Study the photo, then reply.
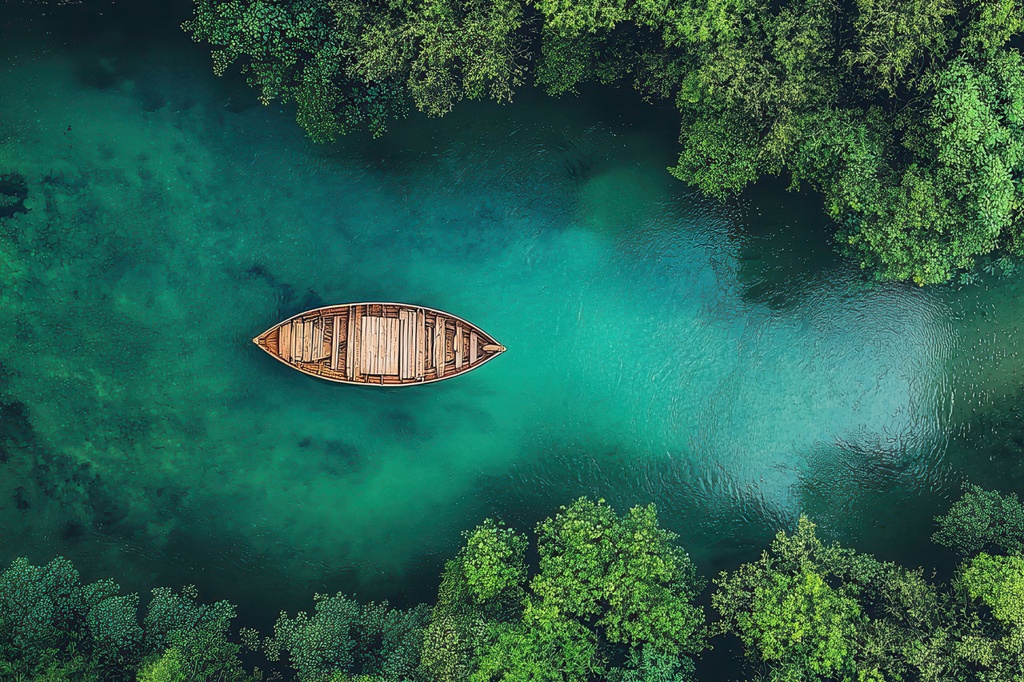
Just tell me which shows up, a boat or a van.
boat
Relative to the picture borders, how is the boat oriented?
from side to side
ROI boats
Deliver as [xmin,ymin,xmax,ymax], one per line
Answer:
[251,302,508,388]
